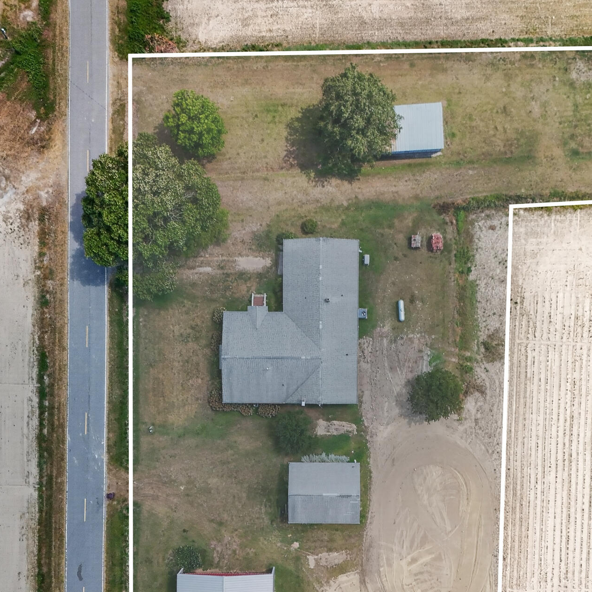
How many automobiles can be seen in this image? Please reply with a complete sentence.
There are no automobiles in this view.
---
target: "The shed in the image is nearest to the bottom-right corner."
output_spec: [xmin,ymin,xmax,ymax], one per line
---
[287,461,361,524]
